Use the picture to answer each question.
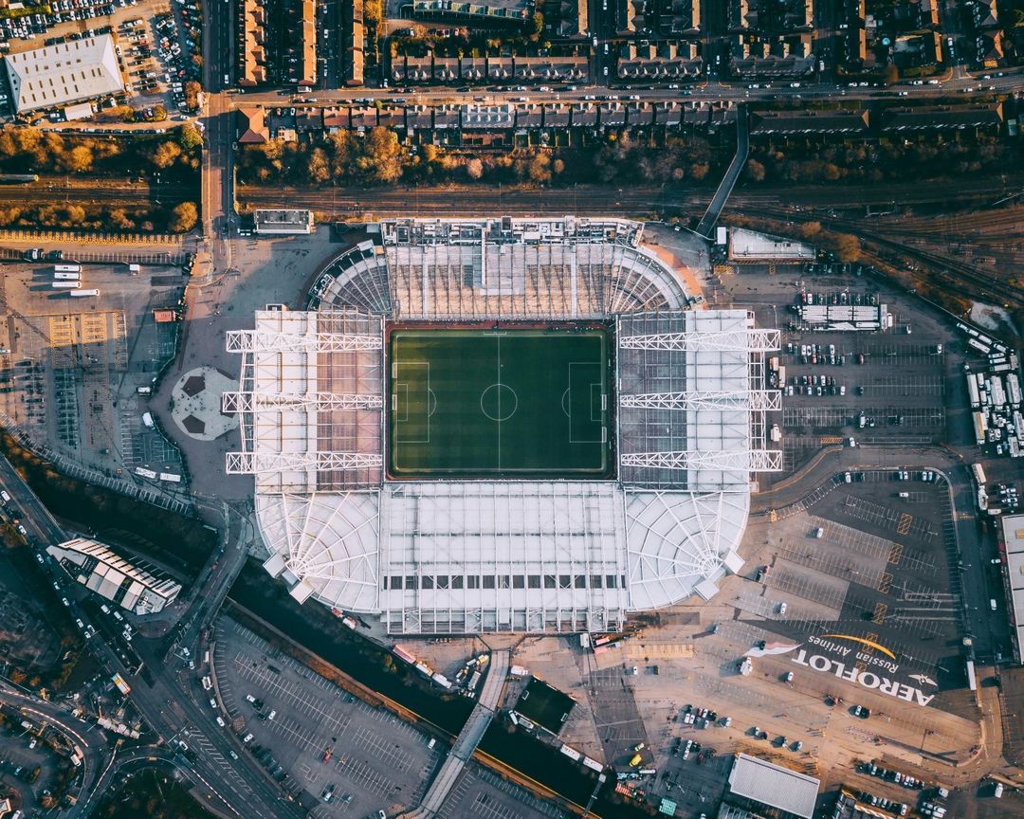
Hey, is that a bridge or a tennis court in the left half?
bridge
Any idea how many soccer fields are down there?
2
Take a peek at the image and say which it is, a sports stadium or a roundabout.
sports stadium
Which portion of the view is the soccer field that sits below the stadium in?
bottom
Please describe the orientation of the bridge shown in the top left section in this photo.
up and down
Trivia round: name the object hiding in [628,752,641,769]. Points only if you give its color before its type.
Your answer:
yellow vehicle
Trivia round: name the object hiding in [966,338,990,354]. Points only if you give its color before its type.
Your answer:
white vehicle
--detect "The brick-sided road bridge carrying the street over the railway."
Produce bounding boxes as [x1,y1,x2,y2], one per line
[201,124,237,231]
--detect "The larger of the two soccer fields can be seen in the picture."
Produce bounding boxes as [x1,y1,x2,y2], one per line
[387,320,616,475]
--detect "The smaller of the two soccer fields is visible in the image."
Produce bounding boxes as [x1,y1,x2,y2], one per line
[514,676,577,735]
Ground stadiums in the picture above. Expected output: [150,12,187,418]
[222,216,780,634]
